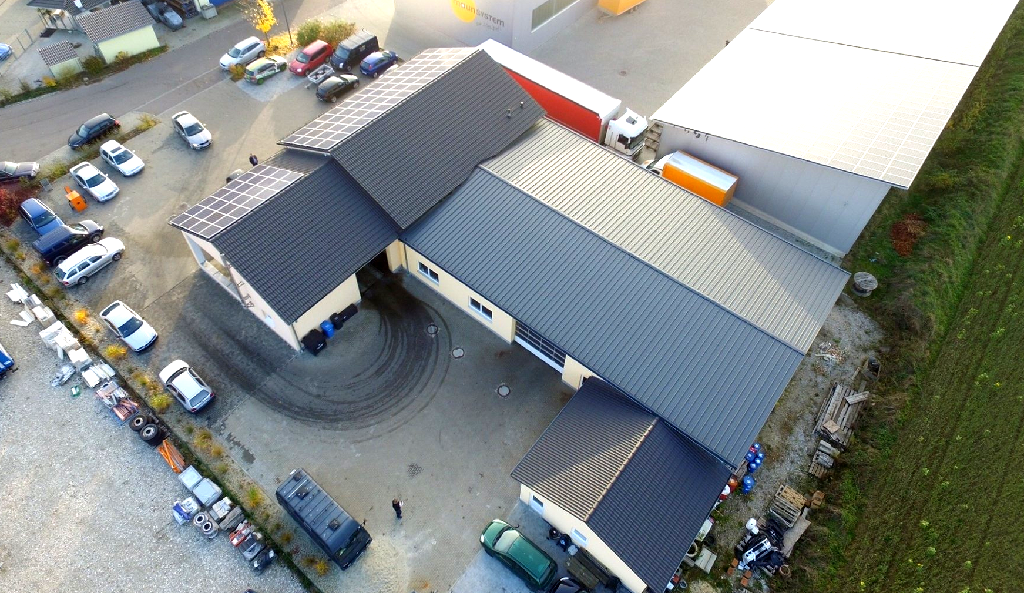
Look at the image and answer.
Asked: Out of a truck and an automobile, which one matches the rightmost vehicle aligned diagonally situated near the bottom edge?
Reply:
automobile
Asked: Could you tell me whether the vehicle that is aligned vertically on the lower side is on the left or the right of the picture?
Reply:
left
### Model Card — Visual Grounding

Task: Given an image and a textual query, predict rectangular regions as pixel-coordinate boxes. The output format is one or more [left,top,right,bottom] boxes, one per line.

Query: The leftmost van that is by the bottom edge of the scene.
[274,467,373,570]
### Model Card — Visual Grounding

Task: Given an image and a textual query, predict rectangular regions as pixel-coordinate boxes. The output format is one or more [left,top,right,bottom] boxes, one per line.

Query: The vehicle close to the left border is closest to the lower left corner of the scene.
[0,338,23,387]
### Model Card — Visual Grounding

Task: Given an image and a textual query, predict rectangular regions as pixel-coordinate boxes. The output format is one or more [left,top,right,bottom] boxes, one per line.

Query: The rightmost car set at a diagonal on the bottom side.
[482,518,557,591]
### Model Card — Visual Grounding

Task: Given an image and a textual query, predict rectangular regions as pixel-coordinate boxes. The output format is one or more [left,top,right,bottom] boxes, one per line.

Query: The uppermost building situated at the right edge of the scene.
[651,0,1017,262]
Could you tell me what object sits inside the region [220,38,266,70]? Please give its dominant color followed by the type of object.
white car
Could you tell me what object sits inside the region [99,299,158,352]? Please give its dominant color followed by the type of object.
white car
